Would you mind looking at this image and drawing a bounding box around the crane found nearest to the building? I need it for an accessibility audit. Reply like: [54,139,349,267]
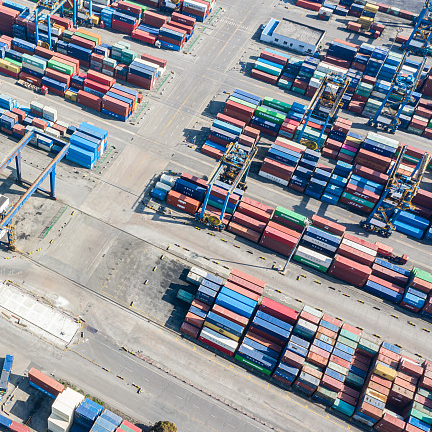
[290,70,352,154]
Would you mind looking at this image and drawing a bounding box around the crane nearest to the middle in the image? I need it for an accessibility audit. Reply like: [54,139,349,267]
[193,140,259,230]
